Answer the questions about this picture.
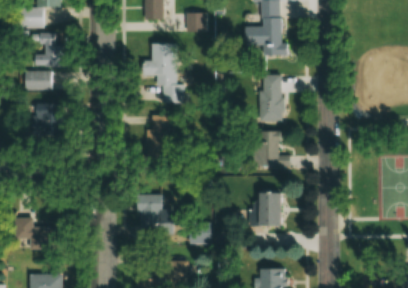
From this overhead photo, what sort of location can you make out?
residential area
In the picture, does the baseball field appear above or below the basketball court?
above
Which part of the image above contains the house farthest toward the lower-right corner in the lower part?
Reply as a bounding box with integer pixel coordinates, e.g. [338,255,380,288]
[253,268,290,288]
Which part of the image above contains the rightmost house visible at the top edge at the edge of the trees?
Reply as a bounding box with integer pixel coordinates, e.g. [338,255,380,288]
[244,0,288,55]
